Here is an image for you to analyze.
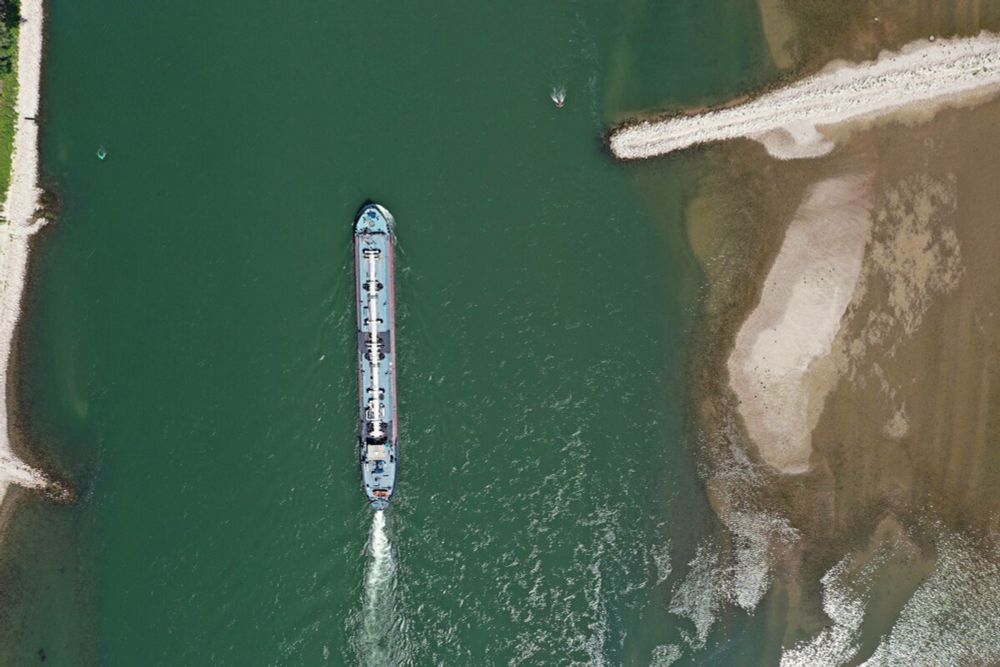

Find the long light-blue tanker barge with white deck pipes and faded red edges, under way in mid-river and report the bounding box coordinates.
[354,204,397,509]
